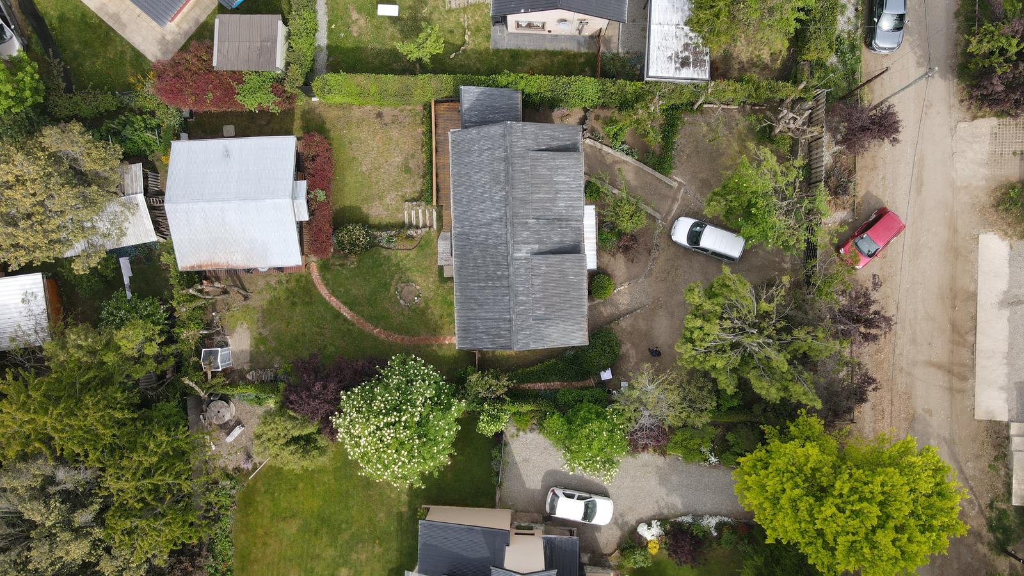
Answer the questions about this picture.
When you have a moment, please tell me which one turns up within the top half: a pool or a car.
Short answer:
car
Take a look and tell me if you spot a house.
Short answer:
Yes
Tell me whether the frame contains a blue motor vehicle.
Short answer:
No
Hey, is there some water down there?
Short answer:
No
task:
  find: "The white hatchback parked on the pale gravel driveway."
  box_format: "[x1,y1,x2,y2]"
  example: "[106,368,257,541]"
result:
[545,485,613,526]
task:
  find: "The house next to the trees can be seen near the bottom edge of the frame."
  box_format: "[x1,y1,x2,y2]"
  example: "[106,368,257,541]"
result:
[404,503,579,576]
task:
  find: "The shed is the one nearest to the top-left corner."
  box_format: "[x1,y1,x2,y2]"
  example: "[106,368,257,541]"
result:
[131,0,203,37]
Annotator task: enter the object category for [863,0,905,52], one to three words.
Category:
car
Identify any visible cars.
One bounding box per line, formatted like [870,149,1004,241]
[545,485,613,526]
[863,0,905,52]
[0,0,31,62]
[837,207,909,269]
[668,217,747,263]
